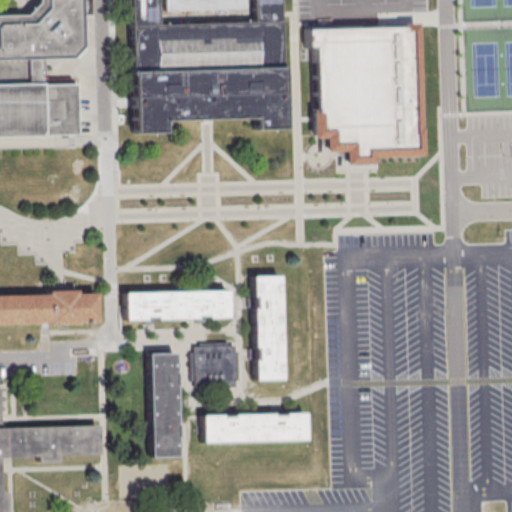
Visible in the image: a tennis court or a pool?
tennis court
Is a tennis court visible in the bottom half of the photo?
No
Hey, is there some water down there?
No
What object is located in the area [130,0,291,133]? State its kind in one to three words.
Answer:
building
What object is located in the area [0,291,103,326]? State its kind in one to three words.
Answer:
building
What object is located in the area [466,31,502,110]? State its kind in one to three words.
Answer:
tennis court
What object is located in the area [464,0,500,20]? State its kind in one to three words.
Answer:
tennis court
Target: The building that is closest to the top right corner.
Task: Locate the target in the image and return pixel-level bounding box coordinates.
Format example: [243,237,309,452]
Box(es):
[305,24,428,165]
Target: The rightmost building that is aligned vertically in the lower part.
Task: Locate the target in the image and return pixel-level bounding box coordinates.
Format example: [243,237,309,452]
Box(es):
[251,274,288,382]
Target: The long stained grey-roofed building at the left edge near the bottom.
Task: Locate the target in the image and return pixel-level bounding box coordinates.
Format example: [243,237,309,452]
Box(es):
[0,426,102,512]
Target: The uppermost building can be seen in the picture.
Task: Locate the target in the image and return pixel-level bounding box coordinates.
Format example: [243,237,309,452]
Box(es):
[0,0,86,60]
